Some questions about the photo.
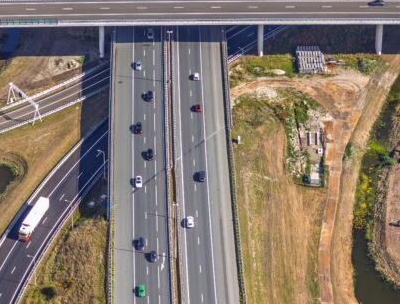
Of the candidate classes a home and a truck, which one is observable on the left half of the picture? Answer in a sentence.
Visible on the left half of the picture is a truck.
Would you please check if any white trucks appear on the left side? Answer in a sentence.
Yes, the scene does show a white truck on the left side.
